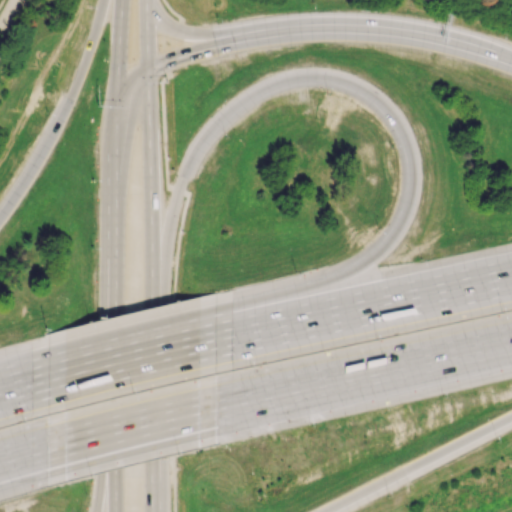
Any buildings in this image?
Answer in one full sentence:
No, the photo shows no building.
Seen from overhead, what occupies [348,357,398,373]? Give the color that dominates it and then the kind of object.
white vehicle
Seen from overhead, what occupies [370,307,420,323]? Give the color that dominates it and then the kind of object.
white vehicle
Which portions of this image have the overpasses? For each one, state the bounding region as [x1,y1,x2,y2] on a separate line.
[49,294,216,486]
